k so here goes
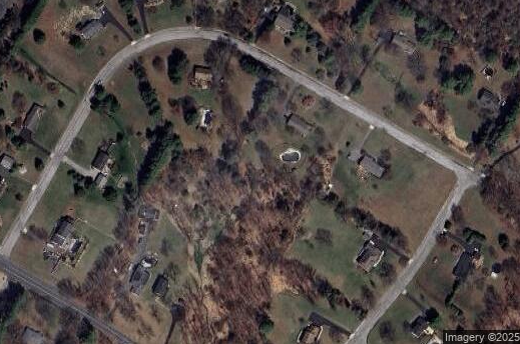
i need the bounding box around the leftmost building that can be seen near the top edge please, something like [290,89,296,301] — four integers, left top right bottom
[79,16,112,38]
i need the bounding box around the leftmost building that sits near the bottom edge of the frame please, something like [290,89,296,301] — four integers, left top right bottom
[22,325,47,344]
